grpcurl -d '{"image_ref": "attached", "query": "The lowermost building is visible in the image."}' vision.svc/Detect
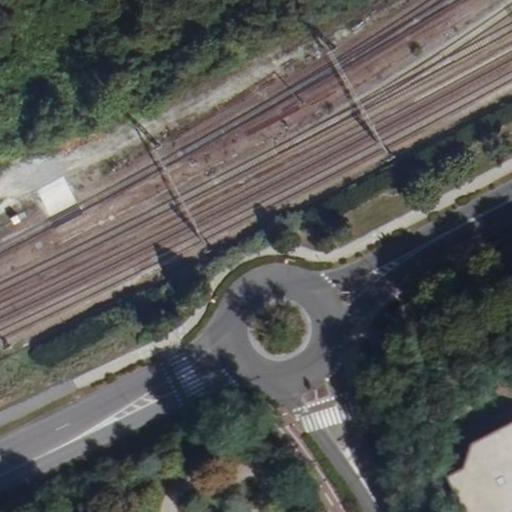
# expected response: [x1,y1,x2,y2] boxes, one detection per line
[446,419,512,512]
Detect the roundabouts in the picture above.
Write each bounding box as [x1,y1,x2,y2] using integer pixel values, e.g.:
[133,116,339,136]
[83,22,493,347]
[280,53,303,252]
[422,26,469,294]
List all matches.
[186,265,372,408]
